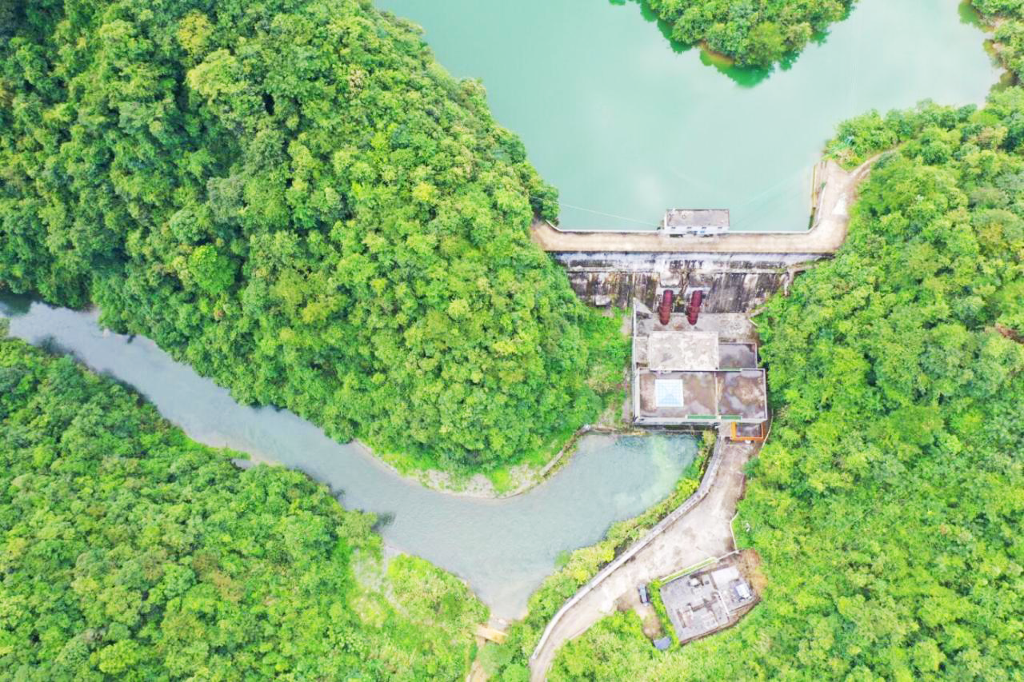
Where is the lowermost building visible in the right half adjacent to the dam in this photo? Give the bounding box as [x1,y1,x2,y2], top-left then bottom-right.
[631,369,769,434]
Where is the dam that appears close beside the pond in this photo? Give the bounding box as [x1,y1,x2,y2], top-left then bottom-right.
[530,146,896,313]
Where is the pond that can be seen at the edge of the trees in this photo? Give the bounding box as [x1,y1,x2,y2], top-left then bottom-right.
[375,0,1006,232]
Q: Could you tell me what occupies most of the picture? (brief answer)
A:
trees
